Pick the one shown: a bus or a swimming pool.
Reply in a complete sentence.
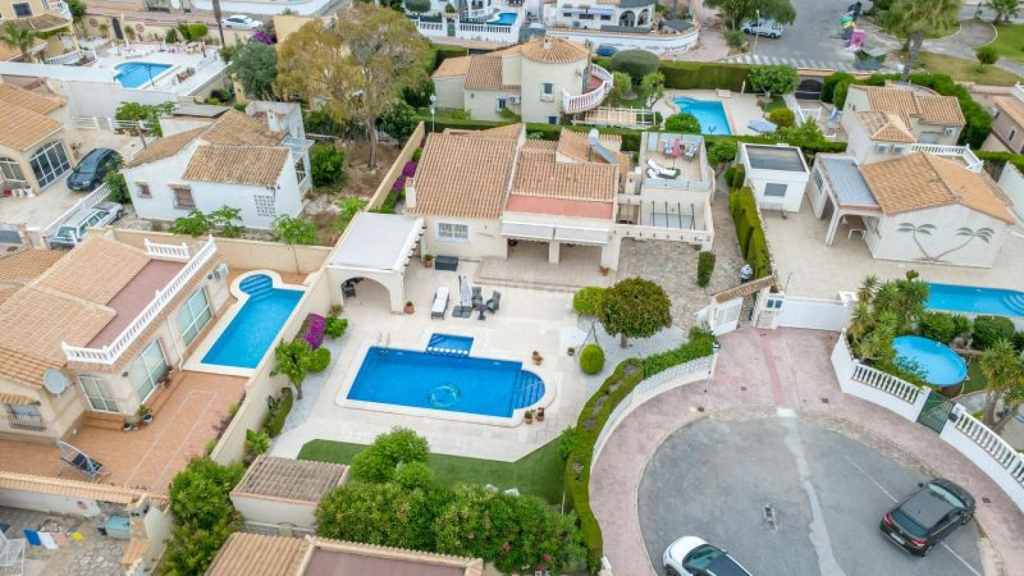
Of the two, only a swimming pool appears.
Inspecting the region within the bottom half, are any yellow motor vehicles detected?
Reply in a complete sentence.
No, the scene shows no yellow motor vehicle within the bottom half.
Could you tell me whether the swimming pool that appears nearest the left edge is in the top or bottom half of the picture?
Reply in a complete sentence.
The swimming pool that appears nearest the left edge sits in the top half of the picture.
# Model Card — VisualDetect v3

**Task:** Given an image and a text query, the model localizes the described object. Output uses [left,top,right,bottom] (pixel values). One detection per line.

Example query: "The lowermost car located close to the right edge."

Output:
[883,477,977,557]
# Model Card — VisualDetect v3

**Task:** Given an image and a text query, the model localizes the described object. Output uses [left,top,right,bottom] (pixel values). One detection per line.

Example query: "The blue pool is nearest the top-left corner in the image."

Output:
[108,61,179,89]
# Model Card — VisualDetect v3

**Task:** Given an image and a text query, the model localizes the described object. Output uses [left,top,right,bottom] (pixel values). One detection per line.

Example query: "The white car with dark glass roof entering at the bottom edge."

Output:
[662,536,761,576]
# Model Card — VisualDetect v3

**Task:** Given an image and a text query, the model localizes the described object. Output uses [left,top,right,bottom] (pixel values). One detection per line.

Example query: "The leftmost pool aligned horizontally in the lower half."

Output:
[336,325,557,427]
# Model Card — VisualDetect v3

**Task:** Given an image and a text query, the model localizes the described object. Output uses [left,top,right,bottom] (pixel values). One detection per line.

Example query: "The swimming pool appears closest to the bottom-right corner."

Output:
[878,334,976,406]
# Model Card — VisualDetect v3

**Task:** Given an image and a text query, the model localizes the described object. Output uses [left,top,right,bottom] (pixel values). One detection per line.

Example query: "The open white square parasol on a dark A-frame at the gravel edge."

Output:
[556,323,600,356]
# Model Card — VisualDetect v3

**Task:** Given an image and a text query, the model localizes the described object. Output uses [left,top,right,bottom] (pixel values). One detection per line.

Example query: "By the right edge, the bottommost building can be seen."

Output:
[805,149,1018,268]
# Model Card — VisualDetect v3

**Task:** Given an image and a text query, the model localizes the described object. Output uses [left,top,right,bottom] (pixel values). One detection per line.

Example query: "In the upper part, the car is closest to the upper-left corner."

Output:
[71,145,125,186]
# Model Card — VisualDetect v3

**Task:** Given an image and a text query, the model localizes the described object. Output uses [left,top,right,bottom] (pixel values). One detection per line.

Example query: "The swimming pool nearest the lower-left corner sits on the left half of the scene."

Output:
[182,270,311,377]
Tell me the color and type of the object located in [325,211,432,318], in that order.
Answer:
white gazebo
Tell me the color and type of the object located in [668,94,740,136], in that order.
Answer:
blue swimming pool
